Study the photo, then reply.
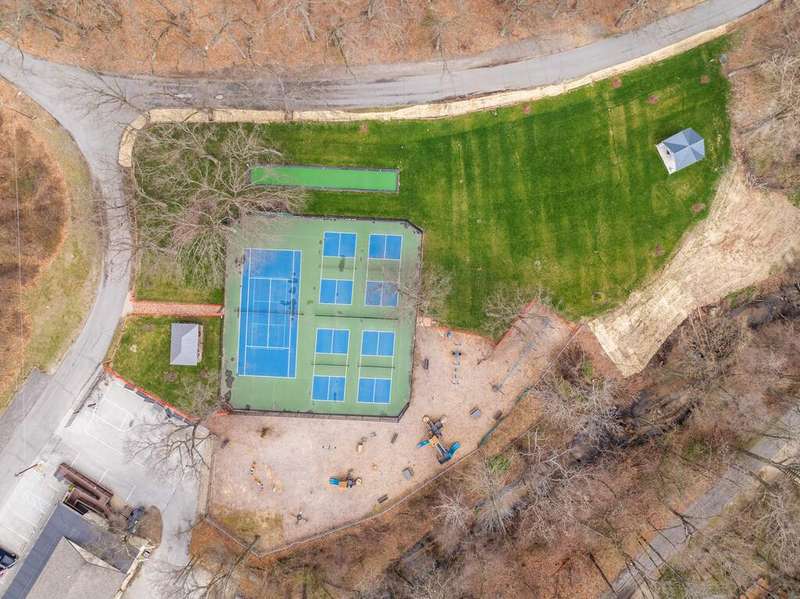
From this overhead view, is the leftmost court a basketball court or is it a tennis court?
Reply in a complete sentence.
It looks like the leftmost court is a tennis court.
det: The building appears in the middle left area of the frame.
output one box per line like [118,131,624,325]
[170,323,203,365]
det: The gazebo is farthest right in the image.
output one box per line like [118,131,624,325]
[656,128,705,174]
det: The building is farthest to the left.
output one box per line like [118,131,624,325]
[5,500,150,599]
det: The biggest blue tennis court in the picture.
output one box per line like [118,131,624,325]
[235,248,303,378]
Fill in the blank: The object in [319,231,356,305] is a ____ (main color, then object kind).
blue sports court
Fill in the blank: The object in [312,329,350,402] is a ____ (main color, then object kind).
blue sports court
